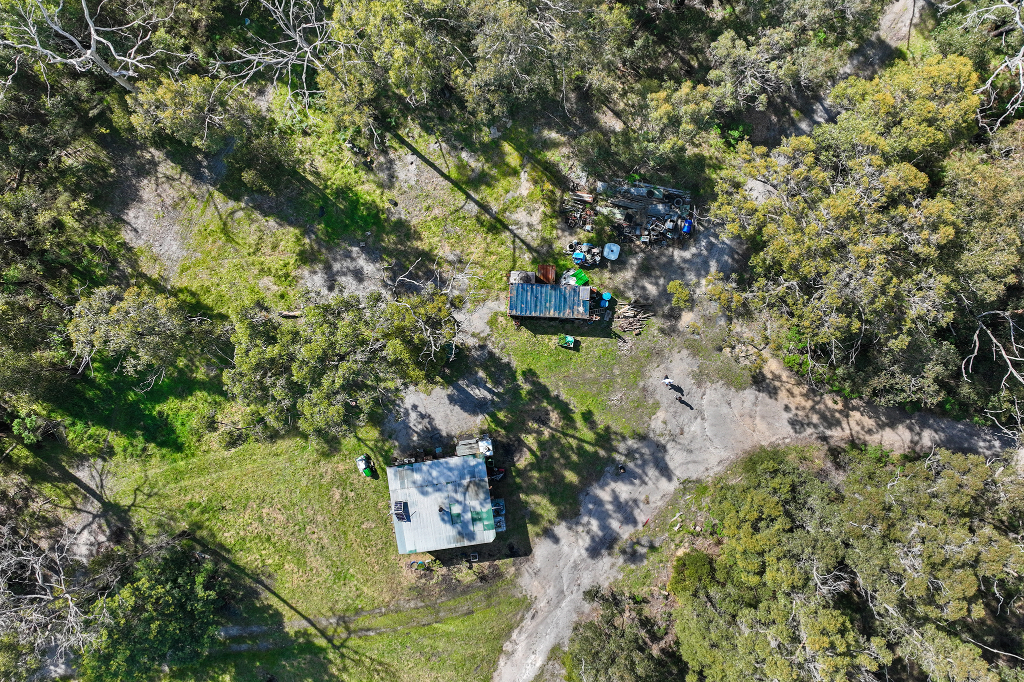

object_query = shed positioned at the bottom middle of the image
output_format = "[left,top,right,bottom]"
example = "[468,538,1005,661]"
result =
[386,451,496,554]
